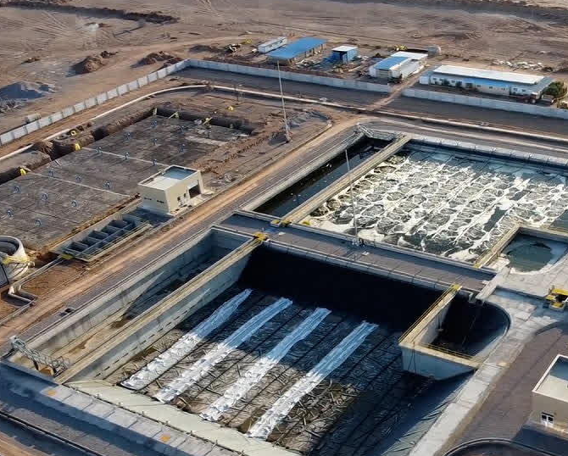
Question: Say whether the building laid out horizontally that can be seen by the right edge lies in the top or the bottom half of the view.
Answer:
top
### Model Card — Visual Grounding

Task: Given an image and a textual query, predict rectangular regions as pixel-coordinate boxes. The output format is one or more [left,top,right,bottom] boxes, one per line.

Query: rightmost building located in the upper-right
[414,62,553,97]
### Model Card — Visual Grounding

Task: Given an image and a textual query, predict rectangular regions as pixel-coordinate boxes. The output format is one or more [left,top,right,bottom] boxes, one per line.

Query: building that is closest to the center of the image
[135,161,217,214]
